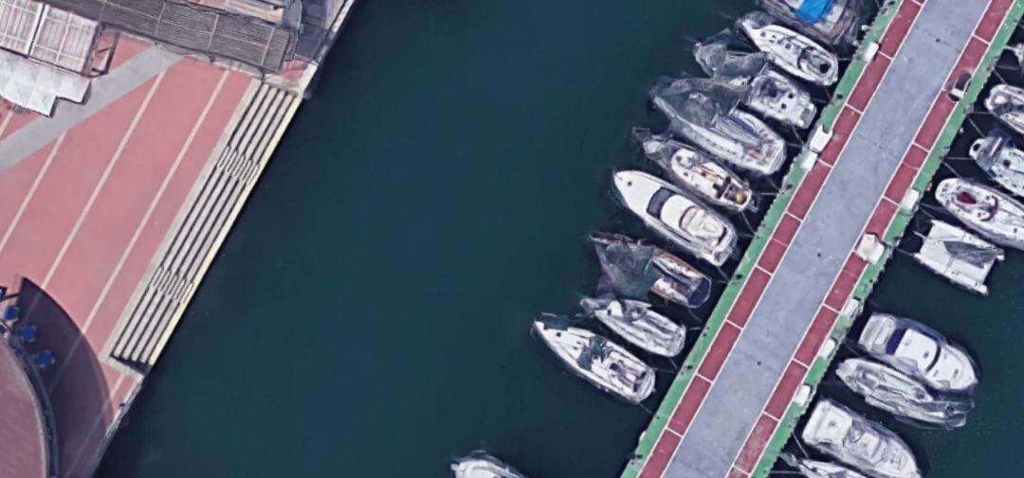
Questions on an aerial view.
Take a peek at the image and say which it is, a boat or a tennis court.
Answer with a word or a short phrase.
boat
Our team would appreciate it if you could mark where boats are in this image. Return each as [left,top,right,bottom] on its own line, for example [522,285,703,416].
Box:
[633,129,780,232]
[919,165,1024,254]
[969,64,1024,141]
[651,88,804,197]
[818,337,974,420]
[847,284,981,385]
[532,314,688,415]
[589,234,729,324]
[996,41,1024,90]
[794,401,923,478]
[612,172,763,279]
[781,435,847,478]
[579,296,706,378]
[964,116,1024,199]
[697,30,836,140]
[759,0,881,44]
[896,207,1005,292]
[741,12,849,95]
[450,457,521,478]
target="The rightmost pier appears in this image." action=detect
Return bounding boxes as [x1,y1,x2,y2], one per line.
[620,0,1024,478]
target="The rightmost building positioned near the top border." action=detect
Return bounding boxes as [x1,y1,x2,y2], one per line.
[198,0,309,60]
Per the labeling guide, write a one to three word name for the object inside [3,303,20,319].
umbrella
